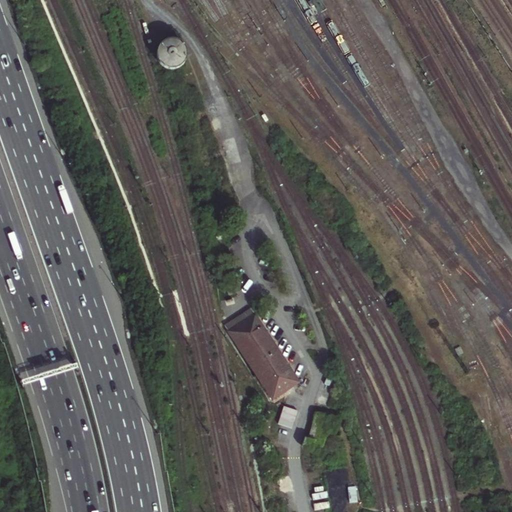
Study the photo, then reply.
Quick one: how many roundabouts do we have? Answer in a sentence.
The photo contains no roundabouts.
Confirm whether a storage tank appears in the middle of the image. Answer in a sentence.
No, no storage tank can be made out in the middle of the image.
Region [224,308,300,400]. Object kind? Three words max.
house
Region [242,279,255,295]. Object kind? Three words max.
vehicle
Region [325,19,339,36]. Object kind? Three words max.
rail car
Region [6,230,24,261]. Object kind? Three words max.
vehicle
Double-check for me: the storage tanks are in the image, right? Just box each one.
[158,37,186,68]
